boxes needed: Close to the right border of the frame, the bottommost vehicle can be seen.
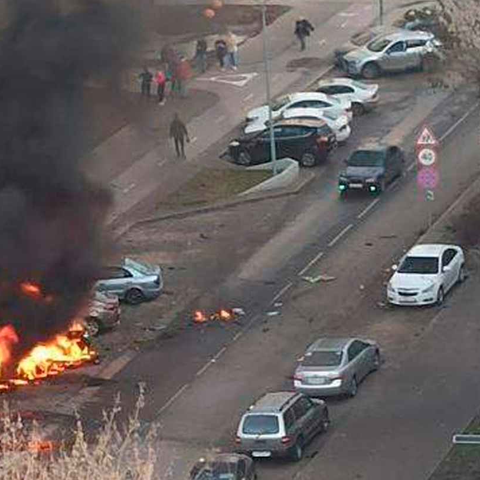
[386,239,467,302]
